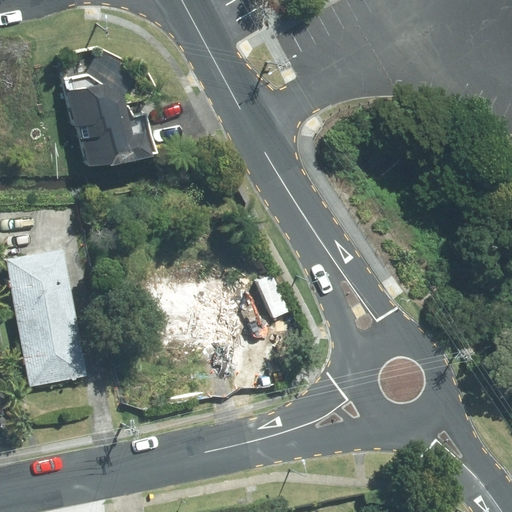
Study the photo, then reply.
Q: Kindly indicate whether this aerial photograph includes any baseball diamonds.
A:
No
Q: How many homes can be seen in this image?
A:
2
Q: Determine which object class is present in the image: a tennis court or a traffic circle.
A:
traffic circle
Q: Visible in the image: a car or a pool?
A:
car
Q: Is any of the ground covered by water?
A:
No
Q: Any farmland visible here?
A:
No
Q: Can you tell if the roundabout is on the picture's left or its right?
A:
right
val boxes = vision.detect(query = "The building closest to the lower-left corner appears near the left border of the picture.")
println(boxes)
[4,248,88,388]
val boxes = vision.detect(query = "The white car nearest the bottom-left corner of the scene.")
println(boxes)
[132,436,159,452]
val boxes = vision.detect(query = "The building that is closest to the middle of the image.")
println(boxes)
[253,274,288,319]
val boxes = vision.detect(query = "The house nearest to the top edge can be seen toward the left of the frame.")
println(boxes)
[60,56,158,166]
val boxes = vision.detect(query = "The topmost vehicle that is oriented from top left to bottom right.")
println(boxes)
[308,264,334,295]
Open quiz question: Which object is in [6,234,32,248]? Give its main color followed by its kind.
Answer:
white vehicle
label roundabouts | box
[378,356,426,404]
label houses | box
[60,56,158,166]
[4,248,88,388]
